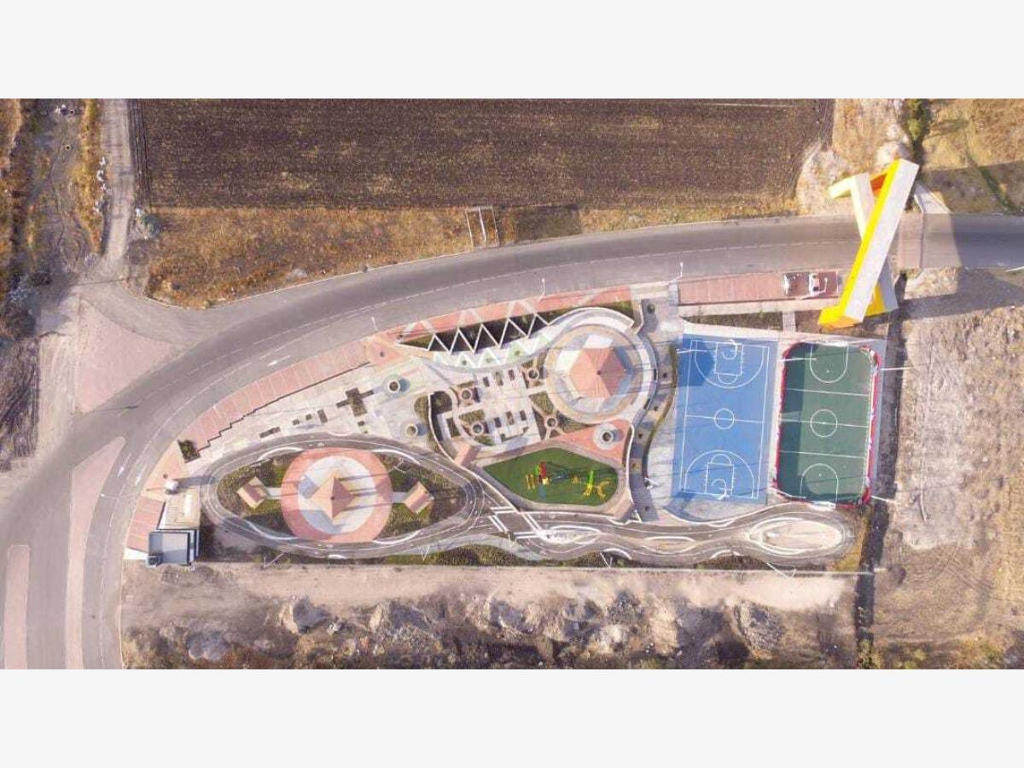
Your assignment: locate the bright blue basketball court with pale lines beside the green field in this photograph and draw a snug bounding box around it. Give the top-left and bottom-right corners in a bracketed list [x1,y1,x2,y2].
[665,334,779,520]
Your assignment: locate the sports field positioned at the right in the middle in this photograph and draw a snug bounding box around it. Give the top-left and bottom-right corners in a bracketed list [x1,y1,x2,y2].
[778,343,881,508]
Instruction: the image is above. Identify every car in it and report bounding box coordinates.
[808,273,820,296]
